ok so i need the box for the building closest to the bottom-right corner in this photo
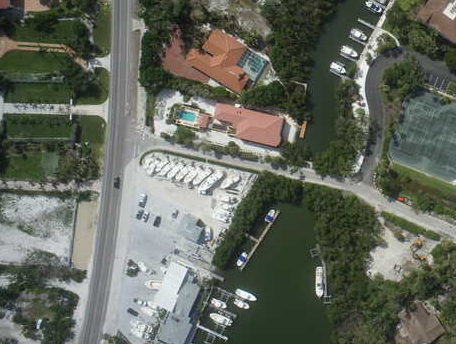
[389,299,447,344]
